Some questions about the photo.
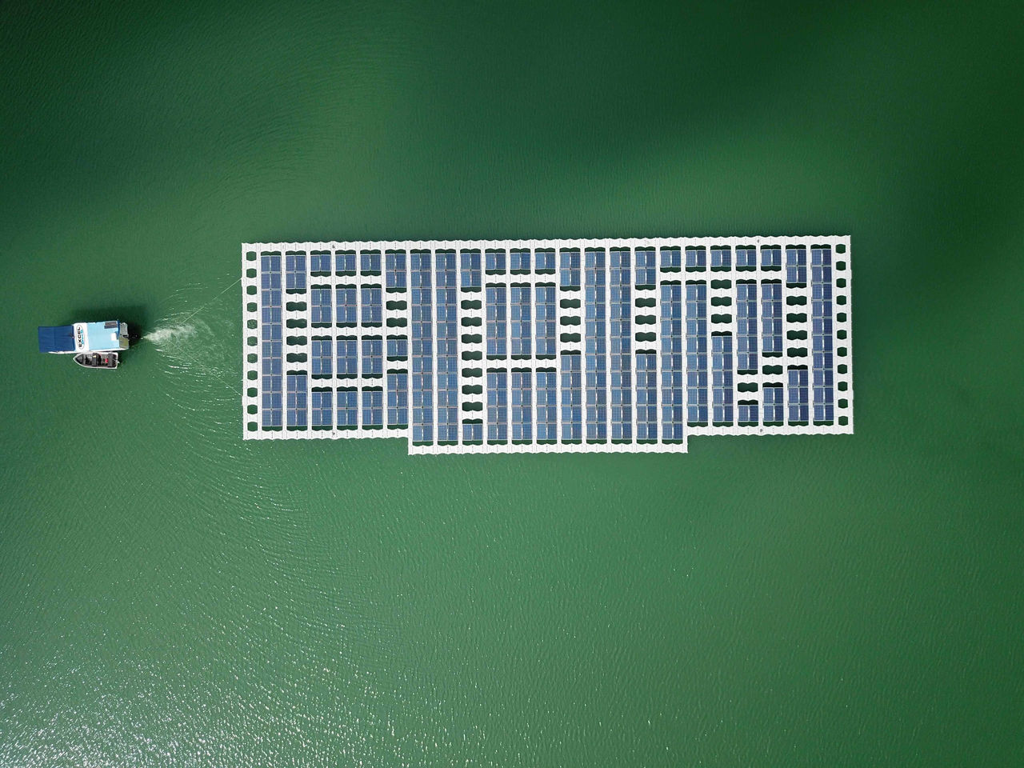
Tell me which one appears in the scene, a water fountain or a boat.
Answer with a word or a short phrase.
boat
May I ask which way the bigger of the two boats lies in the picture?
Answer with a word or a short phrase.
horizontally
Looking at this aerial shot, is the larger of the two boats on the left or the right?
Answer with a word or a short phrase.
left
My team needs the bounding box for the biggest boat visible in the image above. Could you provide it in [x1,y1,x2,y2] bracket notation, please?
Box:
[38,318,144,353]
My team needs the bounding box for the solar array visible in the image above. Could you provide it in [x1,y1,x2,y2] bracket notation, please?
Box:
[241,235,853,455]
